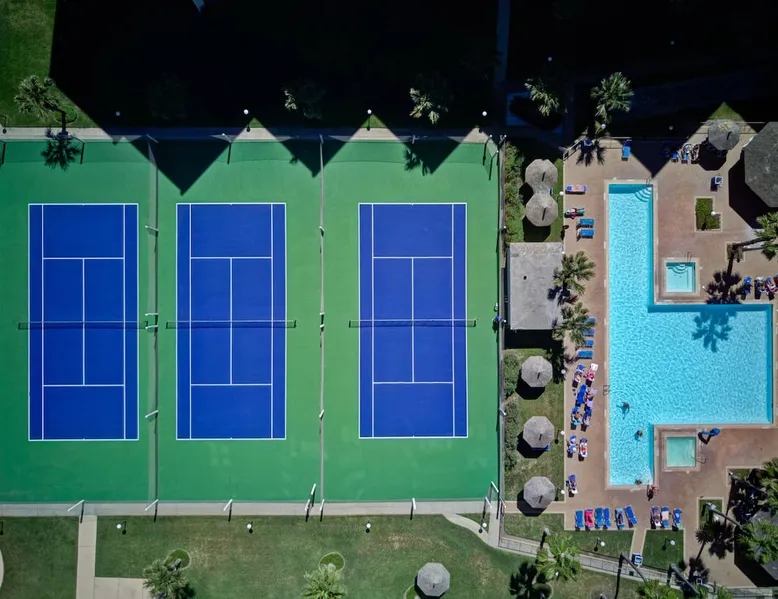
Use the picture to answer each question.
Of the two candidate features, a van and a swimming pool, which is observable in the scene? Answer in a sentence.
Looking from above, you can make out a swimming pool.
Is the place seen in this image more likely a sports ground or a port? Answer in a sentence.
It's a sports ground.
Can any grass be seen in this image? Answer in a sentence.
Yes, grass shows up in the scene.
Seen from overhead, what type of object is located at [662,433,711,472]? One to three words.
swimming pool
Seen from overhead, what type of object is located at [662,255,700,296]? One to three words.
swimming pool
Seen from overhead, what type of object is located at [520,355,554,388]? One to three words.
umbrella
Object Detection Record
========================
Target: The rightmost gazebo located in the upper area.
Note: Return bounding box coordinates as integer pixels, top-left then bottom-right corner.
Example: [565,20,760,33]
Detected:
[735,124,778,207]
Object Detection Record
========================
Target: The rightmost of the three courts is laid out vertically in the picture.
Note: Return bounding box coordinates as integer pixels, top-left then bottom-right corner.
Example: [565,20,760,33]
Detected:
[322,141,500,502]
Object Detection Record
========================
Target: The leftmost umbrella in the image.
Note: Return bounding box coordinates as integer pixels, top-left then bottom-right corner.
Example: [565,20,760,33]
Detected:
[417,563,450,596]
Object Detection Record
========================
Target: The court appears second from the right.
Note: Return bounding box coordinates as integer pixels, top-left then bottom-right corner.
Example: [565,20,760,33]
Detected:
[158,141,322,502]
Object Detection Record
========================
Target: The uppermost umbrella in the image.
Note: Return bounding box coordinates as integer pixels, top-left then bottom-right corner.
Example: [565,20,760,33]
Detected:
[706,117,740,151]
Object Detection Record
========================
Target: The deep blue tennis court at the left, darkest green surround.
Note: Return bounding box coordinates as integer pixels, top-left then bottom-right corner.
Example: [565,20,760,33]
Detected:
[0,141,158,503]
